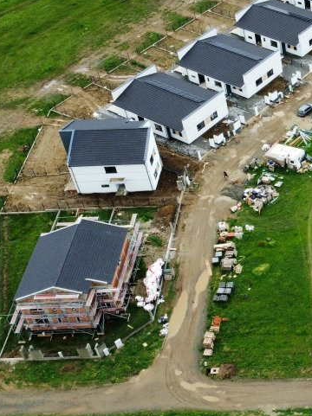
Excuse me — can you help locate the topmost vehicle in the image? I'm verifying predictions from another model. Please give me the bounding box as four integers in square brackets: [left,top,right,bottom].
[296,104,312,117]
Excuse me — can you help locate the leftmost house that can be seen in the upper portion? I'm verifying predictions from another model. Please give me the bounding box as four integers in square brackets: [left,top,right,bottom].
[58,117,162,197]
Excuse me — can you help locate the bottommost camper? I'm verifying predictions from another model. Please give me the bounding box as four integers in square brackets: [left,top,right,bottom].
[264,145,312,174]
